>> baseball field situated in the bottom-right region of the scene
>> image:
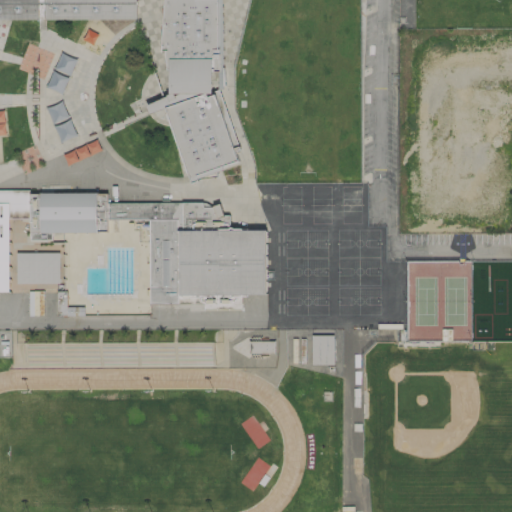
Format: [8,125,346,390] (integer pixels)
[364,344,512,512]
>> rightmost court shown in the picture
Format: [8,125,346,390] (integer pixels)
[474,262,512,342]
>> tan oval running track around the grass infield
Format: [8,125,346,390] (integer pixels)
[0,369,306,512]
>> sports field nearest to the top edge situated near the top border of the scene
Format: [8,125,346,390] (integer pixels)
[236,0,362,183]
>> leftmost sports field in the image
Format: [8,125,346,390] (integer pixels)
[0,390,284,512]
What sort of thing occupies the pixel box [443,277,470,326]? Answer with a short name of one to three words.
tennis court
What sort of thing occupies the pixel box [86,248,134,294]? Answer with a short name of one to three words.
swimming pool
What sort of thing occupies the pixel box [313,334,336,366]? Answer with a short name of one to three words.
shed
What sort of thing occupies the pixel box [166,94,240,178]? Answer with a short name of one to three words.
building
